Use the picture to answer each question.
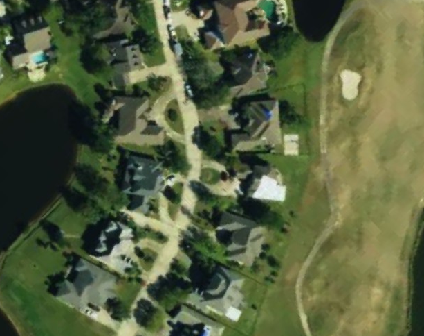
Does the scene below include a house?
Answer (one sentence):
Yes, a house is visible in the scene.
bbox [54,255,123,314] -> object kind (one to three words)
house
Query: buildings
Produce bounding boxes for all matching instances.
[104,40,143,92]
[216,207,269,268]
[228,98,281,152]
[92,0,141,40]
[170,302,228,336]
[199,0,271,52]
[242,160,288,202]
[224,44,274,99]
[120,154,168,214]
[8,11,55,72]
[87,212,142,267]
[189,260,251,316]
[111,94,164,146]
[54,255,123,314]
